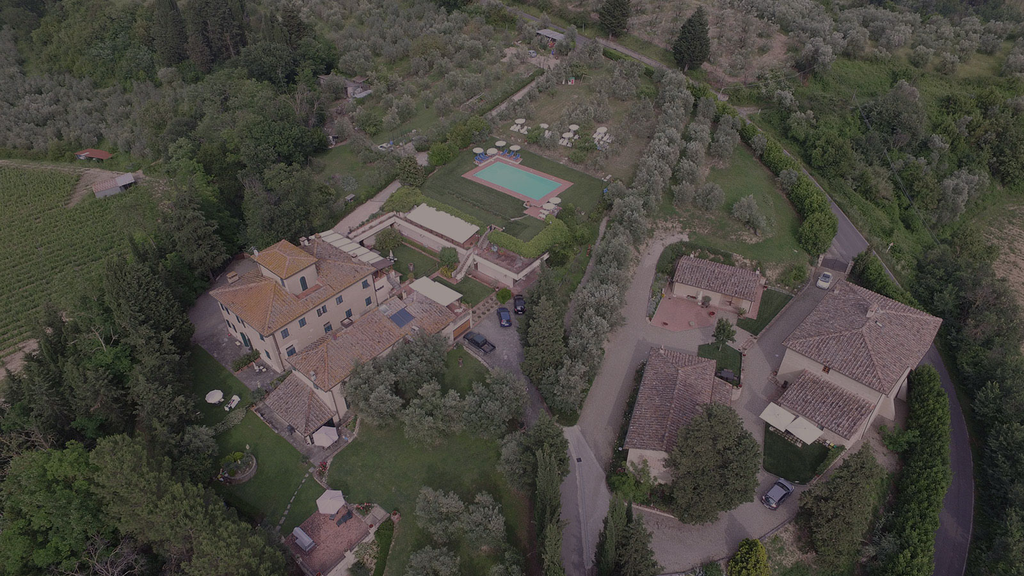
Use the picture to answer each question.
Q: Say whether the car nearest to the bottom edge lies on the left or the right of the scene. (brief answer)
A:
right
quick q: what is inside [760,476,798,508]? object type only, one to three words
car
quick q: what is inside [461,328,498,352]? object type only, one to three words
truck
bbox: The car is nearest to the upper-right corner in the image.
[817,266,835,287]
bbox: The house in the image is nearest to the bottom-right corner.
[777,278,942,453]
